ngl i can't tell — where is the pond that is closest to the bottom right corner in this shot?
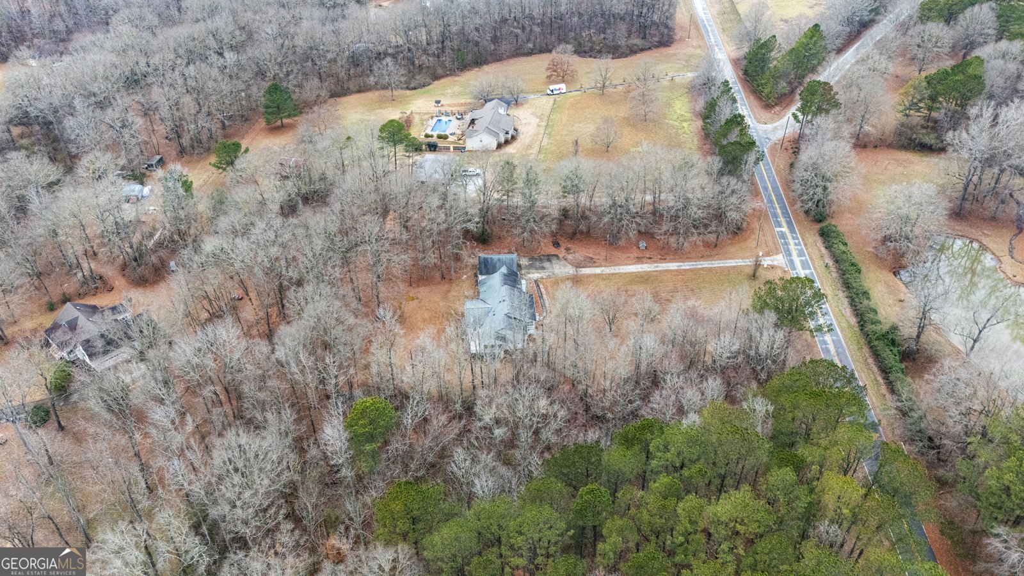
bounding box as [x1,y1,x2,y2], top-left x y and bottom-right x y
[897,239,1024,391]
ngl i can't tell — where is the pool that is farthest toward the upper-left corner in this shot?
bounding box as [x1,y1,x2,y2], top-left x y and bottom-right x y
[430,119,452,133]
